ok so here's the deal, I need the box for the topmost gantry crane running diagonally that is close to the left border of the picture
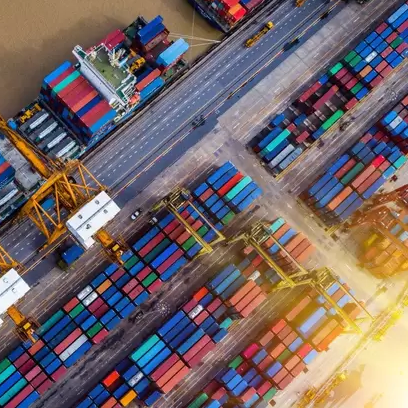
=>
[0,122,128,270]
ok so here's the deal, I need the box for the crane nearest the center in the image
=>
[149,184,226,262]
